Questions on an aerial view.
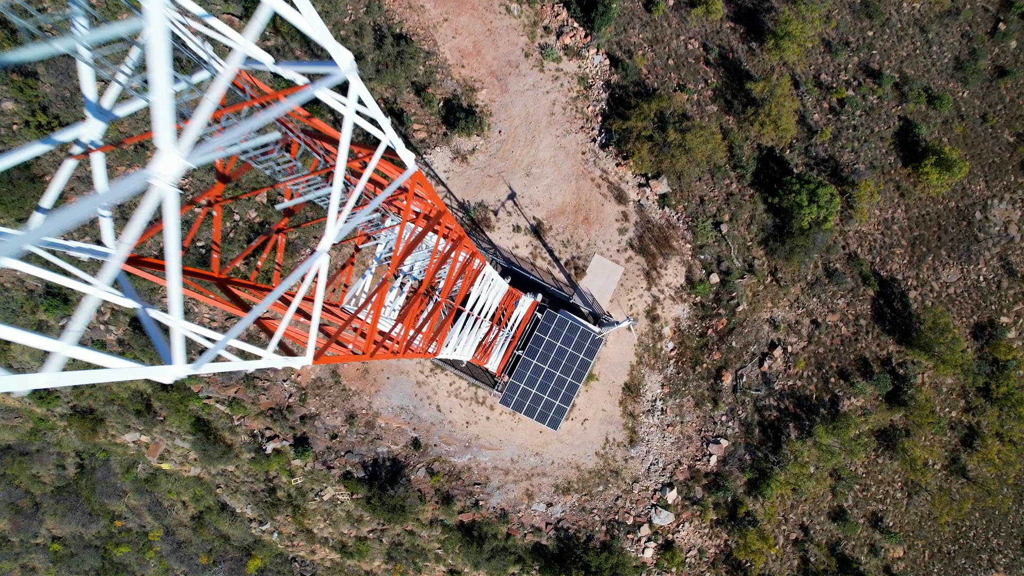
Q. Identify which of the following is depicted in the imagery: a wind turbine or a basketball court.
wind turbine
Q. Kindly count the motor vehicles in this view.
none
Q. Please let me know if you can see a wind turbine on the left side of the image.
No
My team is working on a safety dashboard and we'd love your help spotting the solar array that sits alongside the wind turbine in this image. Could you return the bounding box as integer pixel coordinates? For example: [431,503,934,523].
[499,307,604,431]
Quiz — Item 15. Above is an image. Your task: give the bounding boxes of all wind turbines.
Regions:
[596,300,642,338]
